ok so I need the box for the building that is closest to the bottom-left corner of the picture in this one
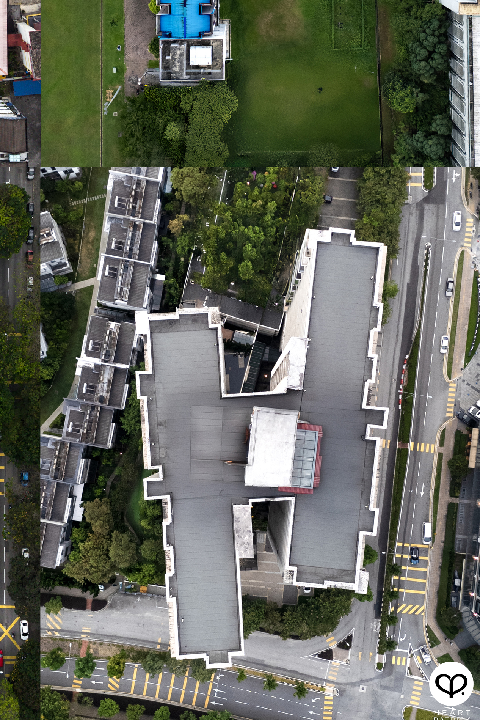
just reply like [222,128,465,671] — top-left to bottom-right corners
[40,519,63,568]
